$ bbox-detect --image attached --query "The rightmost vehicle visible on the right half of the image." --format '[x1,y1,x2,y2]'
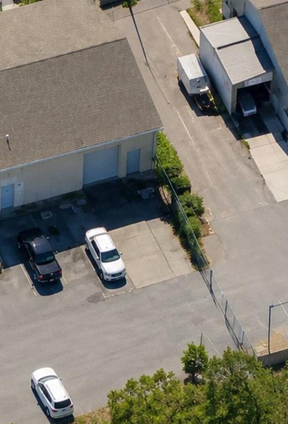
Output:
[239,85,267,117]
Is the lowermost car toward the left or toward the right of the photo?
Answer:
left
